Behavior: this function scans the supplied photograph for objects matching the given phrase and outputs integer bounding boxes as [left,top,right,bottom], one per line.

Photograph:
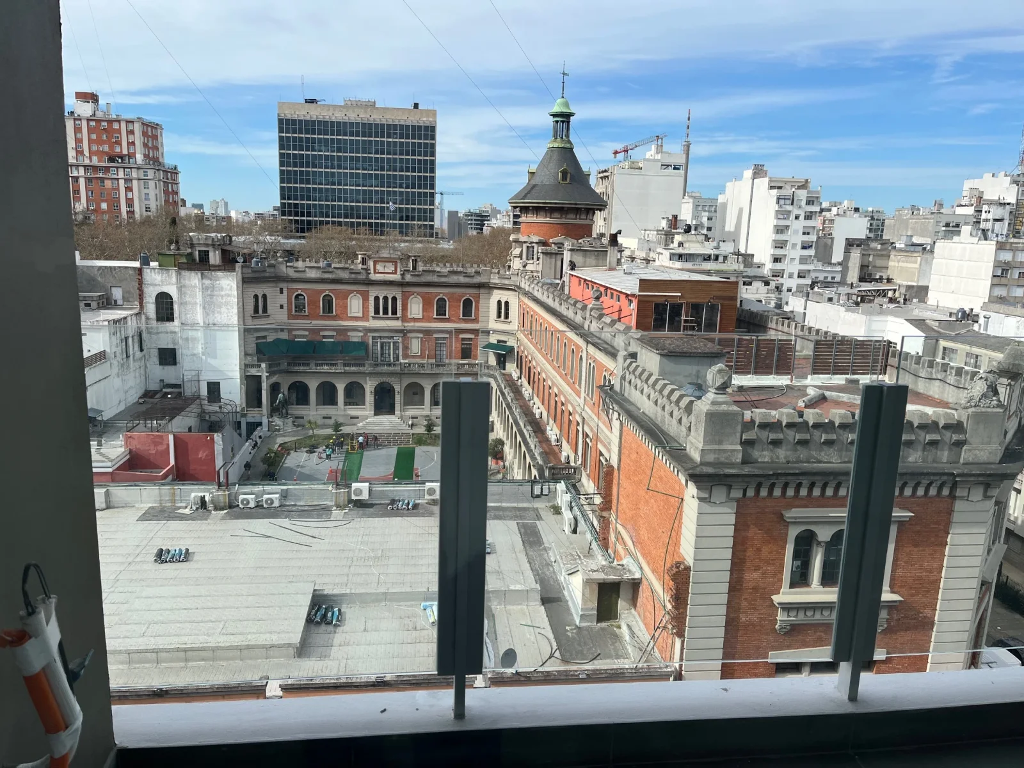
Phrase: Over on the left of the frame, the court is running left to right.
[280,445,440,485]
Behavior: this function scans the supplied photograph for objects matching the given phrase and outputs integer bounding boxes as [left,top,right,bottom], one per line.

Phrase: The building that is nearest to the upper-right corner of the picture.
[964,158,1024,200]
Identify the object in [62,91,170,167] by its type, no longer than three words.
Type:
building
